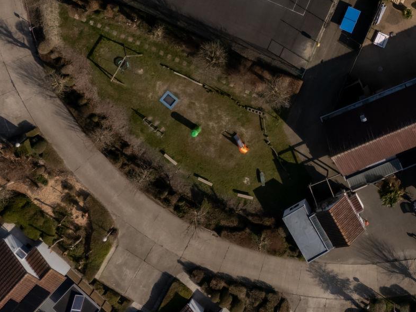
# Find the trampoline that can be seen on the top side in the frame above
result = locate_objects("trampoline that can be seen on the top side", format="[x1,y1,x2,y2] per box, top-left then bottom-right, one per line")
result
[159,90,179,110]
